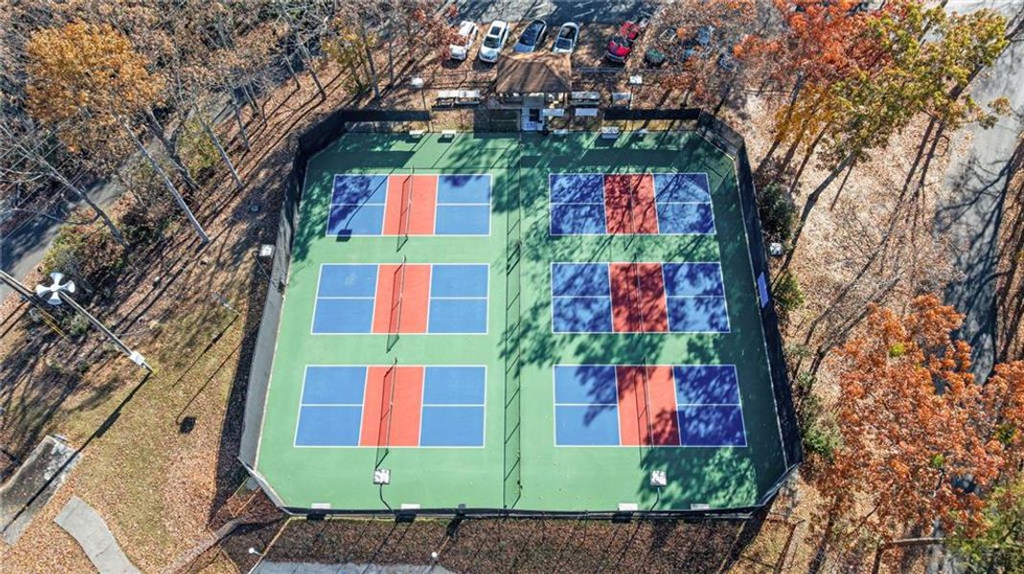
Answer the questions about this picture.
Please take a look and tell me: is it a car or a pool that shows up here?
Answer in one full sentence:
The one in the frame is a car.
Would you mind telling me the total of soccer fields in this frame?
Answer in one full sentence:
The picture shows no soccer fields.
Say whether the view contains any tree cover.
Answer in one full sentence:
Yes, tree cover shows up in the scene.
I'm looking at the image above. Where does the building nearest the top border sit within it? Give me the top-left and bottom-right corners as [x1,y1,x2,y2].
[496,54,573,112]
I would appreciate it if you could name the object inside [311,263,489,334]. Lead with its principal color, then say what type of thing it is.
blue sports court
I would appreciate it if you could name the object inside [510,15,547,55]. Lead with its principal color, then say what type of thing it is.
blue car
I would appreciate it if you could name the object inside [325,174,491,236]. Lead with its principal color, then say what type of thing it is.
blue sports court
